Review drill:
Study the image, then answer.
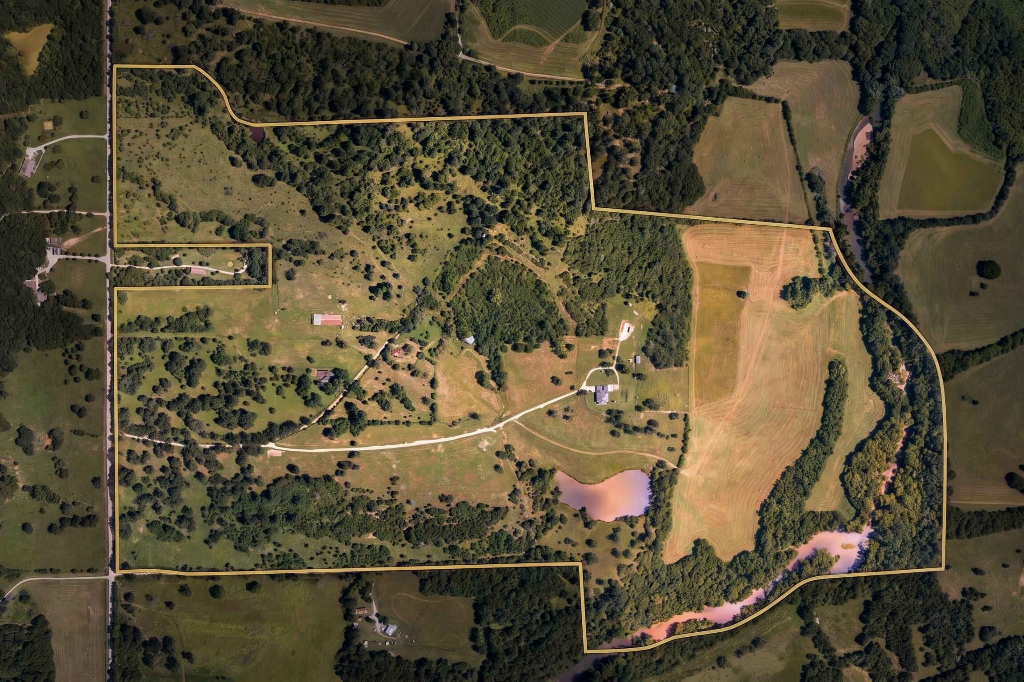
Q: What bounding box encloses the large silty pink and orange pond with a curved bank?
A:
[557,470,650,523]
